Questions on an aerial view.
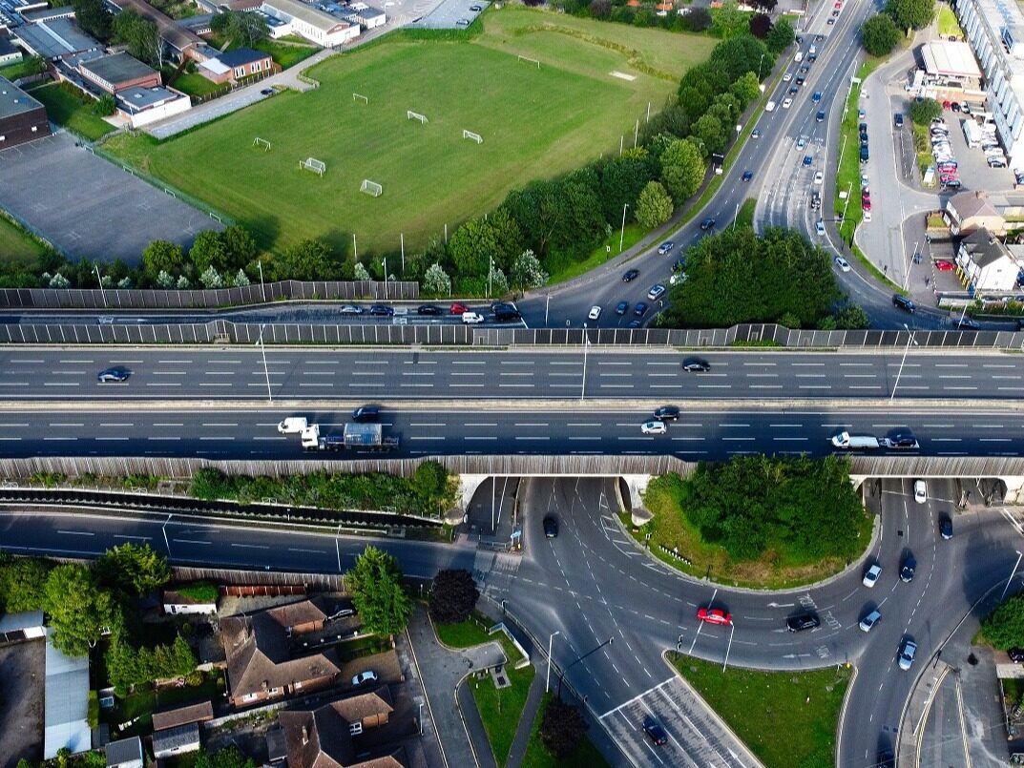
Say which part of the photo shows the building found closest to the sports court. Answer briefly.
top left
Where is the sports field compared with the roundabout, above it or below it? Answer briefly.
above it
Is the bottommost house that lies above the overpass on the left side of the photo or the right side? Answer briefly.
right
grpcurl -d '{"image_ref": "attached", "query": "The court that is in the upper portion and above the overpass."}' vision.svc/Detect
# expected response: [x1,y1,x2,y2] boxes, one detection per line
[0,135,226,269]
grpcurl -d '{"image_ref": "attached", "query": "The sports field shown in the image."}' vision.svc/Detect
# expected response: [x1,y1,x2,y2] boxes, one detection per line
[100,7,720,286]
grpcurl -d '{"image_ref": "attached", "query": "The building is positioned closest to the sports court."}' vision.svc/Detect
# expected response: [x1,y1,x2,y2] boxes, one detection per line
[0,74,51,149]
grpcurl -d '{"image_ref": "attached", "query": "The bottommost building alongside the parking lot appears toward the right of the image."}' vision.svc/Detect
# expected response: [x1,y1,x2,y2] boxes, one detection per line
[961,216,1019,289]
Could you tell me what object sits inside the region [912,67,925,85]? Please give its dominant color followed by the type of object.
white vehicle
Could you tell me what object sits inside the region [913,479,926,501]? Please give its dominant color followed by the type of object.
white vehicle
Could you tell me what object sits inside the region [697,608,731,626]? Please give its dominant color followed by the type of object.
red car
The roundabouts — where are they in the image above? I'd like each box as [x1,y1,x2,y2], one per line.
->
[0,478,1024,768]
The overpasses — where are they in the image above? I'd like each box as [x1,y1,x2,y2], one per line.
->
[0,343,1024,530]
